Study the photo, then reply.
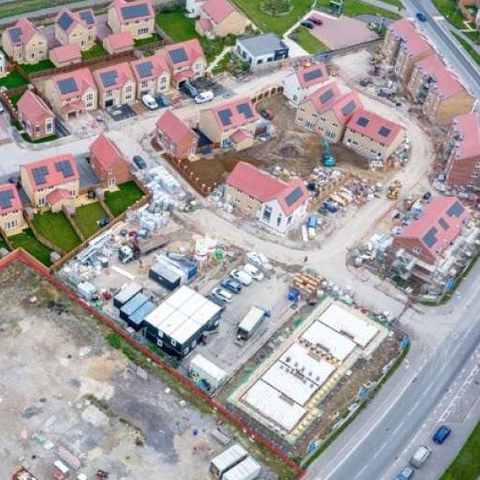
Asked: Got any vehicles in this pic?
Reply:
Yes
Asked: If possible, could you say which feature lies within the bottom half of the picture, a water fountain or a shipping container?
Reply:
shipping container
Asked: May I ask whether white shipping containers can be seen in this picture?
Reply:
Yes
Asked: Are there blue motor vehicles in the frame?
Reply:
Yes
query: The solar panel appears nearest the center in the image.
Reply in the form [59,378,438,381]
[285,184,308,207]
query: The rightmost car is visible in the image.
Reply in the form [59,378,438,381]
[433,422,452,442]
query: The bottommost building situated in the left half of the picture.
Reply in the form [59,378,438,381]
[142,286,221,362]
